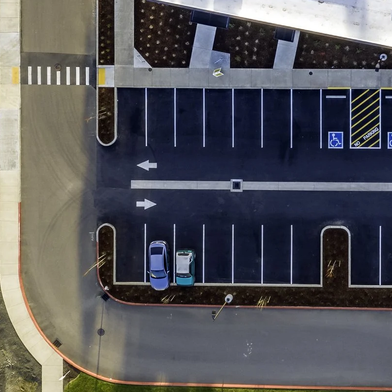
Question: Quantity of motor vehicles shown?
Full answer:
My tally gives 2 motor vehicles in this view.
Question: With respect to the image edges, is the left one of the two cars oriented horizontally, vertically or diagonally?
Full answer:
The left one of the two cars is oriented vertically.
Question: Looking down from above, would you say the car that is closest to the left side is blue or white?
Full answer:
The color of the car that is closest to the left side is blue.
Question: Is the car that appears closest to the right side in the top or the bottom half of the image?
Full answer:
Seen from above, the car that appears closest to the right side lies in the bottom half of the view.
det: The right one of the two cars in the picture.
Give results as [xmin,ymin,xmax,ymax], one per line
[175,247,197,285]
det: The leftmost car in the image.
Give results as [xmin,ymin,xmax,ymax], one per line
[147,238,170,288]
